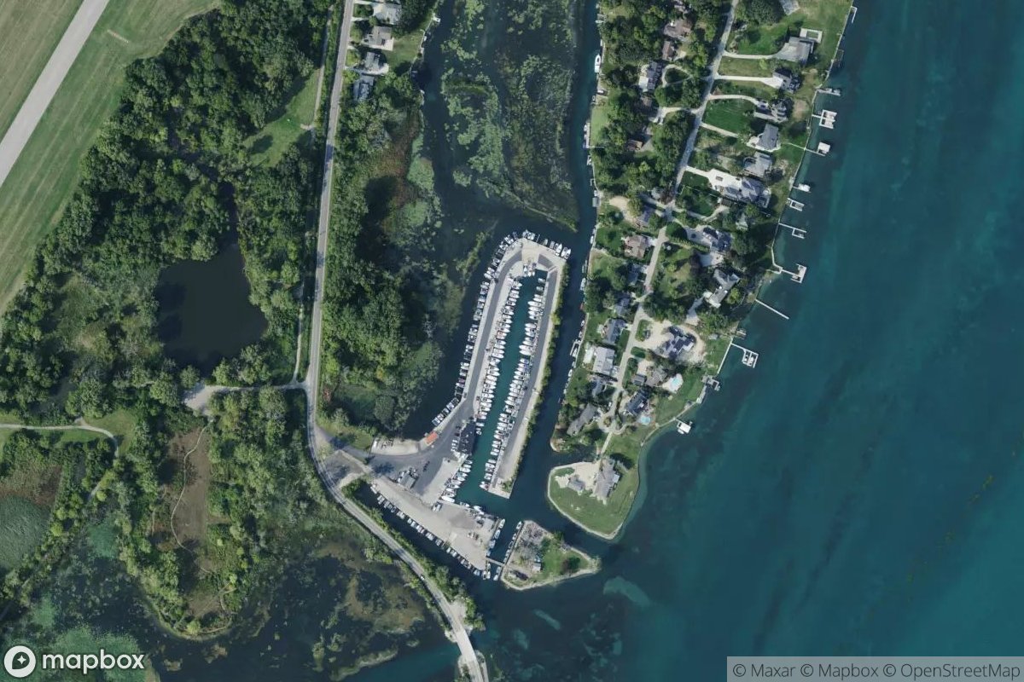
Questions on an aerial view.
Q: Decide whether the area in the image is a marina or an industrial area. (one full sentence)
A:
This image shows a marina.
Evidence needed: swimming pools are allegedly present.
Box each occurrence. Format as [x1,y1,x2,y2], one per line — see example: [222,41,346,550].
[639,412,652,425]
[662,373,683,393]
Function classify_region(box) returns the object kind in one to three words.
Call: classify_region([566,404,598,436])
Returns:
house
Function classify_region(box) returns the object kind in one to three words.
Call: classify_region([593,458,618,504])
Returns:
house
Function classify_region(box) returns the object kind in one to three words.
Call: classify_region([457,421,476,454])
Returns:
building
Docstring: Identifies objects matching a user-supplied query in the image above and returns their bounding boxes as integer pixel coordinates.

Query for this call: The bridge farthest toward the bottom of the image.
[448,621,479,672]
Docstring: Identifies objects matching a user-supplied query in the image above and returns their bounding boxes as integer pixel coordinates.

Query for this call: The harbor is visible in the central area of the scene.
[317,238,570,571]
